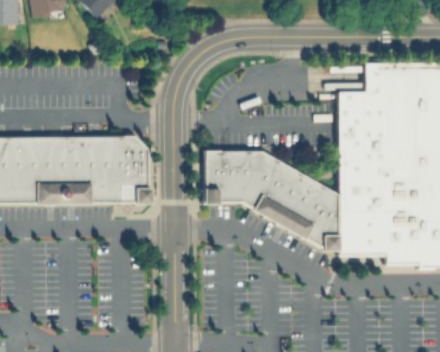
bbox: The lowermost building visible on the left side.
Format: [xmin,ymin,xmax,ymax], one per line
[0,136,153,204]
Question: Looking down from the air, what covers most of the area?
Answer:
paved ground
